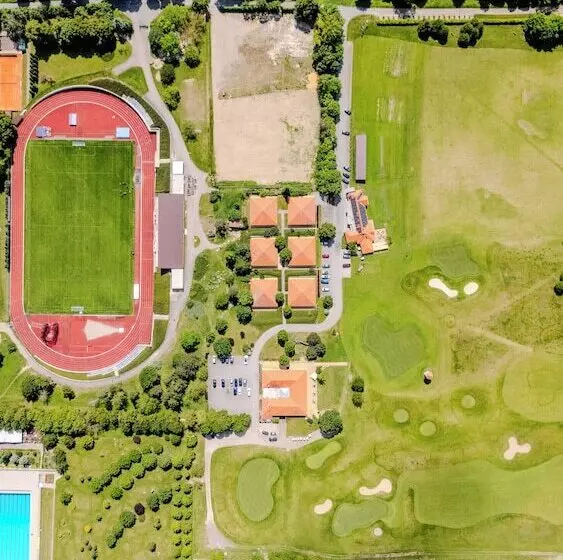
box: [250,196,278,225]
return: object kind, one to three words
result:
house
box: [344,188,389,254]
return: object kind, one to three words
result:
building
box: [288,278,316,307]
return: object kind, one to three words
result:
house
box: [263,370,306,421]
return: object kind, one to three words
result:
building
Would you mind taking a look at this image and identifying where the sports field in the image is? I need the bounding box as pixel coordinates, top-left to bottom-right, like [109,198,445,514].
[26,140,134,314]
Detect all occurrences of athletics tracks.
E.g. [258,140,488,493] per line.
[10,87,156,373]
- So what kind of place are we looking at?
golf course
